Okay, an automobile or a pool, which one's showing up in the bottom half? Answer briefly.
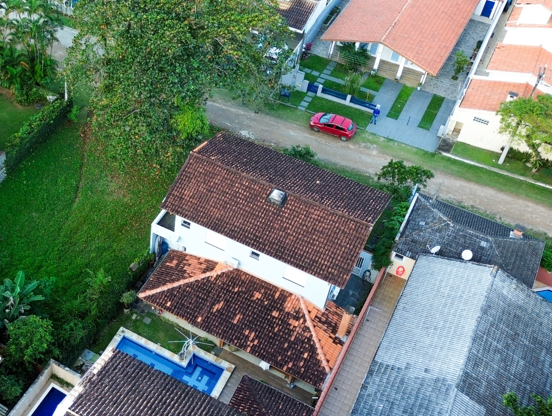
pool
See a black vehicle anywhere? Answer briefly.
No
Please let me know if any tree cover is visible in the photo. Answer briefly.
Yes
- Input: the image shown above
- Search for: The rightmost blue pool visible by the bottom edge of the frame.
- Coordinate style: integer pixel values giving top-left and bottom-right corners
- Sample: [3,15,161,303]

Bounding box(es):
[111,330,233,401]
